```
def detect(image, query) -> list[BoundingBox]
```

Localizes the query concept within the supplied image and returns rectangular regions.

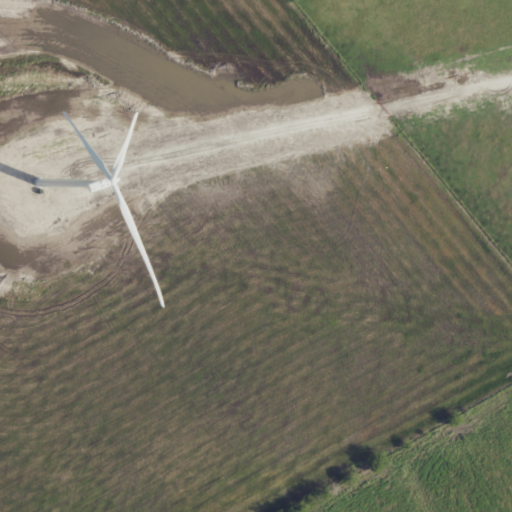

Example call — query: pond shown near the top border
[15,8,321,112]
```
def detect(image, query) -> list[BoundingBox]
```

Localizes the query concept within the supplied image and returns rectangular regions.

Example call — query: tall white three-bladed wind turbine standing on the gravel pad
[35,112,164,306]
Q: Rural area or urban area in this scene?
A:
rural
